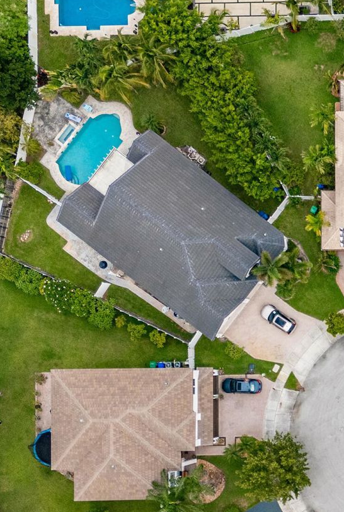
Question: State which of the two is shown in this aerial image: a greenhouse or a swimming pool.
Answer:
swimming pool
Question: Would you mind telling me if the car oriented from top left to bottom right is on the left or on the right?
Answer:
right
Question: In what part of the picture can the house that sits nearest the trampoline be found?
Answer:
bottom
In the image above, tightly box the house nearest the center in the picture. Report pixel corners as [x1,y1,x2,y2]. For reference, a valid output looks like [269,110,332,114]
[58,128,292,343]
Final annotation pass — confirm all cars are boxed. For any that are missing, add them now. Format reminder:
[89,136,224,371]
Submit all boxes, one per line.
[260,303,297,334]
[223,377,260,395]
